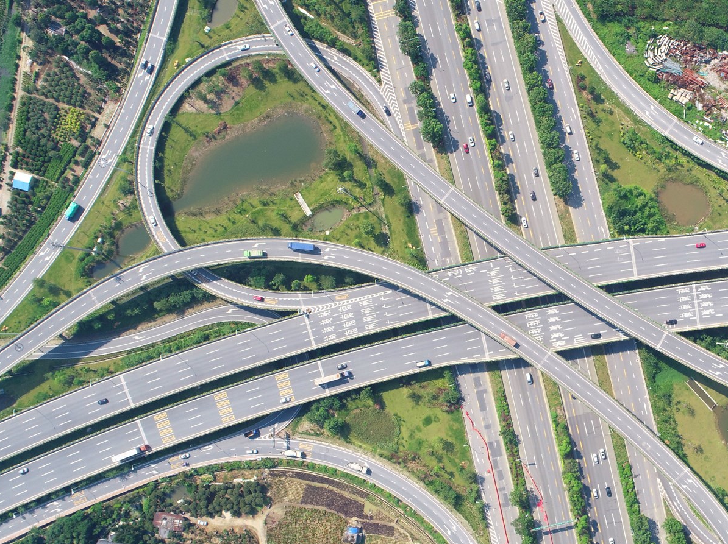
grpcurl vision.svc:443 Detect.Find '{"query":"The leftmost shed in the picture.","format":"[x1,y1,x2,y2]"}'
[12,171,37,192]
